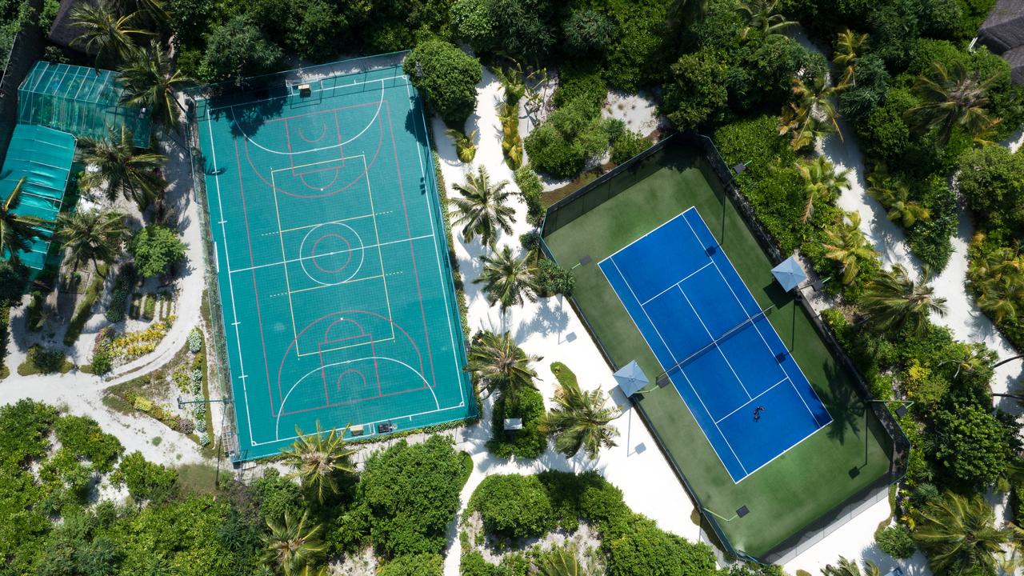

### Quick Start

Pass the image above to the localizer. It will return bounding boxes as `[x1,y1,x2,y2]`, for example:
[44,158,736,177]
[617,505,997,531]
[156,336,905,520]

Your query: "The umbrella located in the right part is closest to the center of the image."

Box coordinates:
[612,360,649,397]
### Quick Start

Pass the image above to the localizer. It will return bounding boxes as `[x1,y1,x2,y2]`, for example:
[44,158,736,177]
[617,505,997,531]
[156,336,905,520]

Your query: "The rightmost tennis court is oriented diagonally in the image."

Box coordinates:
[540,143,895,559]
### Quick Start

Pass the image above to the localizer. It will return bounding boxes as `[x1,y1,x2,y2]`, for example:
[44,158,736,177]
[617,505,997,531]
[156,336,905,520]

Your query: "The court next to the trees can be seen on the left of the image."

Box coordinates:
[195,63,476,463]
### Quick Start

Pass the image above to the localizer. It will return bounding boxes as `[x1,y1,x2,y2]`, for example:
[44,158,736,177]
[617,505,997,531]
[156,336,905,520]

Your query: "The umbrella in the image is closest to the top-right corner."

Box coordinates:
[770,257,806,292]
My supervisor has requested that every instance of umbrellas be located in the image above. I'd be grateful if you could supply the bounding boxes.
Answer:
[770,257,806,292]
[612,360,649,397]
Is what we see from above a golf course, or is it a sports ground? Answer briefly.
sports ground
